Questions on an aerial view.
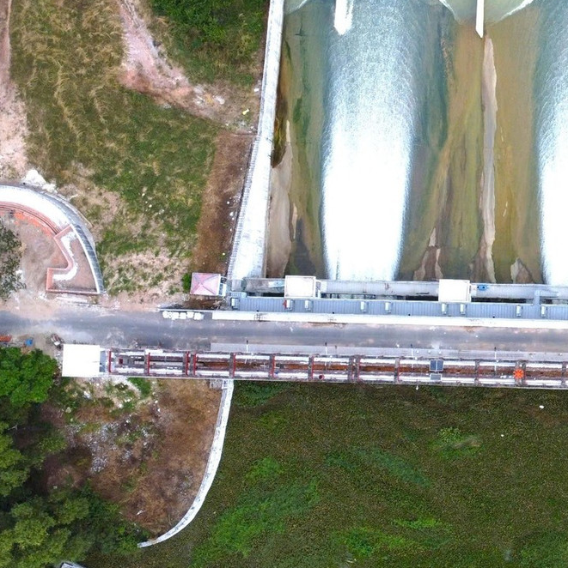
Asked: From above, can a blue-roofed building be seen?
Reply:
No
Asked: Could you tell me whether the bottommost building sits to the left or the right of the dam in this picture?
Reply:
to the left of it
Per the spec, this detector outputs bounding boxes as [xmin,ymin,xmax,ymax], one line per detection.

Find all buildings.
[62,344,114,377]
[190,273,227,296]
